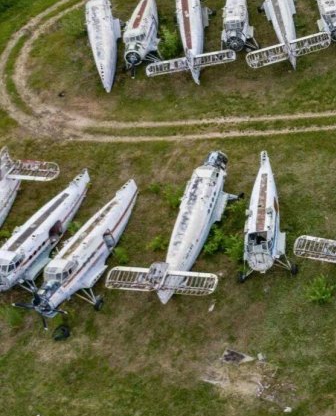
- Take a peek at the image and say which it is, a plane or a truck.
plane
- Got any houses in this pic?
No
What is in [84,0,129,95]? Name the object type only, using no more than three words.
airplane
